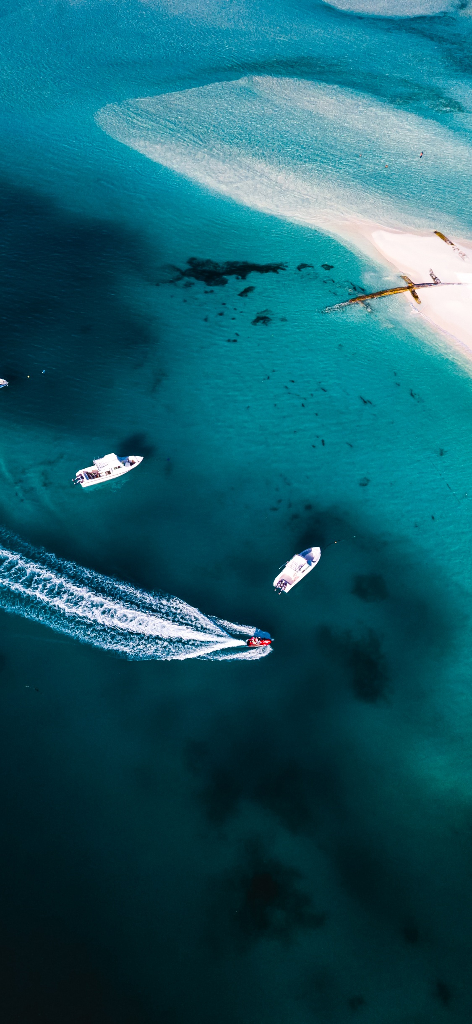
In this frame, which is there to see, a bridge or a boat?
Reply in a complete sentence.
This aerial view contains a boat.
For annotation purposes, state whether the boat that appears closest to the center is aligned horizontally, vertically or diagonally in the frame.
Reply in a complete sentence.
Seen from above, the boat that appears closest to the center lies diagonally.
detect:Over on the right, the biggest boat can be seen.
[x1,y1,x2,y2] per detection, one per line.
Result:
[272,546,322,596]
